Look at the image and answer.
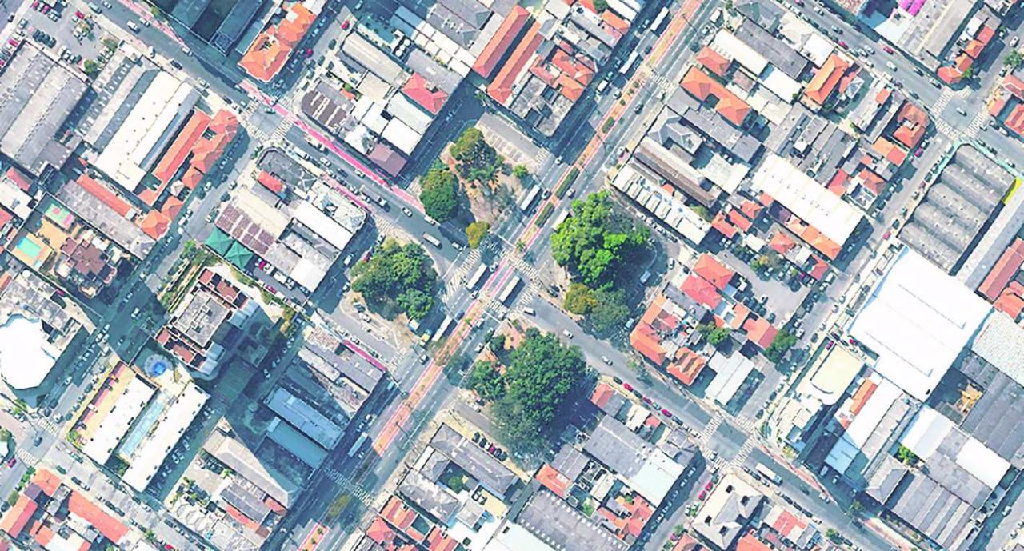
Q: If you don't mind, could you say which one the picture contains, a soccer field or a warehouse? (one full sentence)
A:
Of the two, only a warehouse appears.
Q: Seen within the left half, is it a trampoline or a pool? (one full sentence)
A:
You can see a pool within the left half.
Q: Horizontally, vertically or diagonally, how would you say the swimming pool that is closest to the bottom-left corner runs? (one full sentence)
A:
The swimming pool that is closest to the bottom-left corner is laid out diagonally.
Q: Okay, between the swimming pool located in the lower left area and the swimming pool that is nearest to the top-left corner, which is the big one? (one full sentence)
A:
The swimming pool located in the lower left area takes up more space than the swimming pool that is nearest to the top-left corner.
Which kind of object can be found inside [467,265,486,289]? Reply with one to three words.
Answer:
vehicle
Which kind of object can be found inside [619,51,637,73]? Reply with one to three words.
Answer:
vehicle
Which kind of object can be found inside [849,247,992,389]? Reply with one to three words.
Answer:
warehouse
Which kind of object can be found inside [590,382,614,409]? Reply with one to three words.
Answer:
house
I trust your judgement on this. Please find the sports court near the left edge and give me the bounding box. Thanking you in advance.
[47,201,76,232]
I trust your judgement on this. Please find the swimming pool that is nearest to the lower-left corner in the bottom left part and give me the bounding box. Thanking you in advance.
[118,390,170,459]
